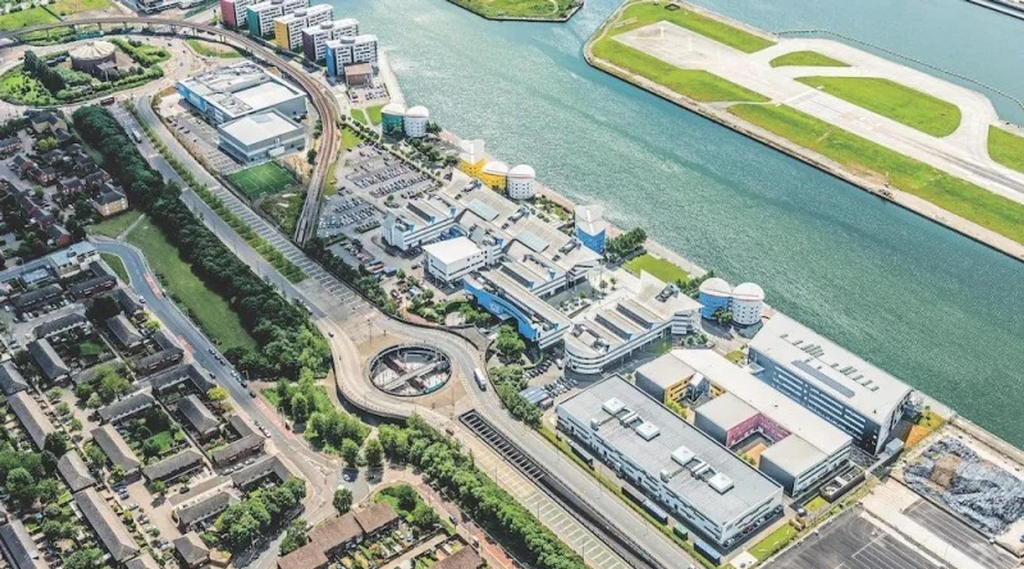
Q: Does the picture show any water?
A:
Yes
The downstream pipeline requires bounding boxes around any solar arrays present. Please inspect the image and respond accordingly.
[788,353,852,392]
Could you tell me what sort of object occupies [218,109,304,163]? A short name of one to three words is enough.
building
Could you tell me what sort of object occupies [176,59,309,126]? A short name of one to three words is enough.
building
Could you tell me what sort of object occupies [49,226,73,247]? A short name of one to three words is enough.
house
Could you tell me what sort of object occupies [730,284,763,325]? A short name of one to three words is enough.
house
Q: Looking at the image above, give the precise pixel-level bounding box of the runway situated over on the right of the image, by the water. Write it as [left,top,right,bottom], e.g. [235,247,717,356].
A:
[612,20,1024,204]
